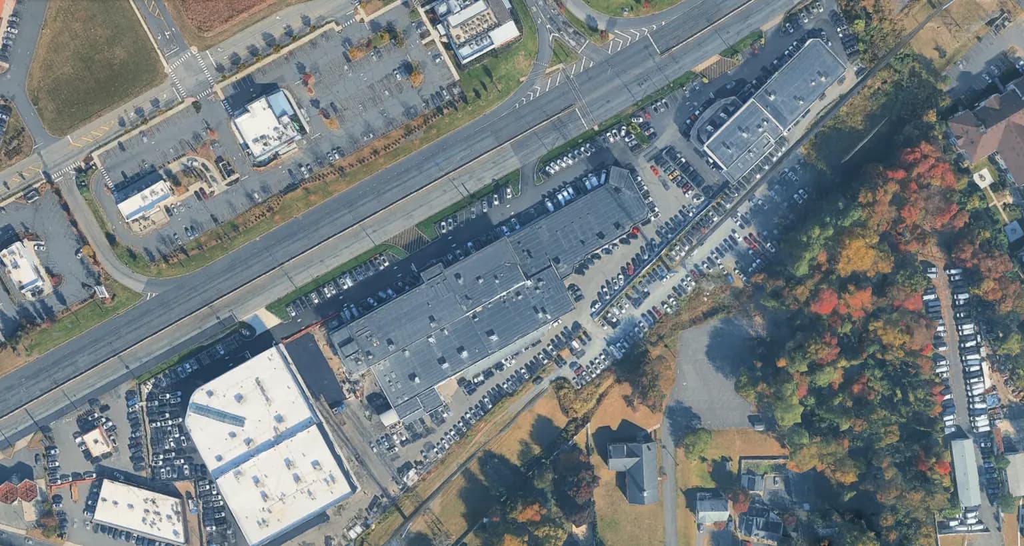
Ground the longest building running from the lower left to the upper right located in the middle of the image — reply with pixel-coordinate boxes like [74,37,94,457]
[329,186,648,427]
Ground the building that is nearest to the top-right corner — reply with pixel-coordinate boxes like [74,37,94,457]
[947,75,1024,200]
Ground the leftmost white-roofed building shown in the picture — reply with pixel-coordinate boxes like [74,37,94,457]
[0,242,44,293]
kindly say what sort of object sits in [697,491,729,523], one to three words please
house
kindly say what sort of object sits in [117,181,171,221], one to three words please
building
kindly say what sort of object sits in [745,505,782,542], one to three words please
house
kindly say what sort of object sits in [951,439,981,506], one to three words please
shed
